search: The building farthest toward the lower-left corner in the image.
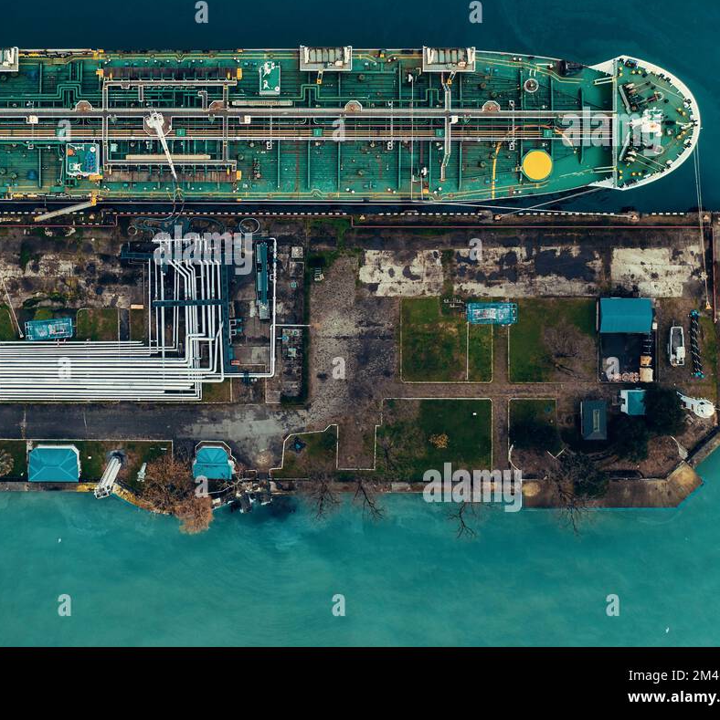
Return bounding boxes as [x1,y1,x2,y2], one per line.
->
[29,445,81,481]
